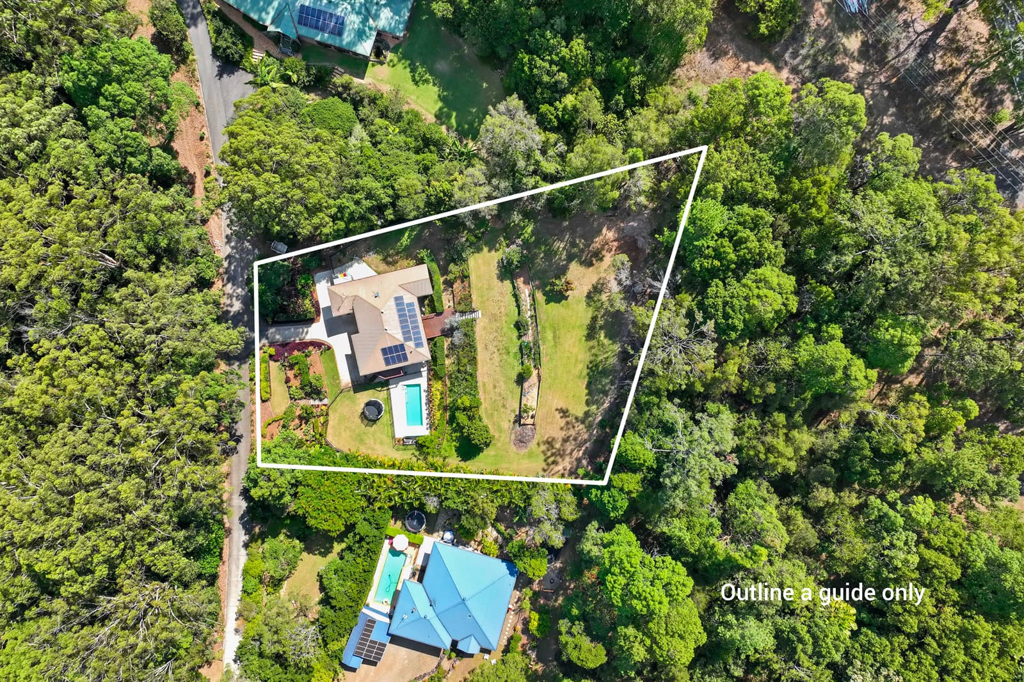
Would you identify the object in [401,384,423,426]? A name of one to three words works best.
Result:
swimming pool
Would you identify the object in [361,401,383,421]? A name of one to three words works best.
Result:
trampoline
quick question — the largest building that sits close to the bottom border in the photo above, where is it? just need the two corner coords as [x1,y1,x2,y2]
[388,541,519,655]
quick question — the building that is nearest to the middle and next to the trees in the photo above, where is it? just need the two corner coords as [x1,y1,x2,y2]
[327,264,433,381]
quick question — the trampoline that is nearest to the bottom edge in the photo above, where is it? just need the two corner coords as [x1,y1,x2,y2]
[404,511,425,534]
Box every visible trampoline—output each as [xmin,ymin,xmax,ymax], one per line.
[404,511,425,534]
[361,401,383,421]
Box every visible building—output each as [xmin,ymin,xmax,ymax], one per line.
[225,0,414,59]
[327,264,433,381]
[388,541,519,655]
